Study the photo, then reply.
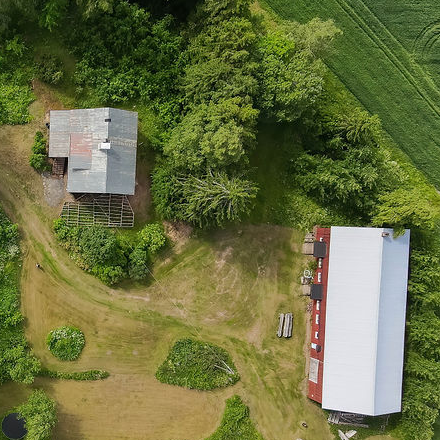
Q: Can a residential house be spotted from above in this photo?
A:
Yes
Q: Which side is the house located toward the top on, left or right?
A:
left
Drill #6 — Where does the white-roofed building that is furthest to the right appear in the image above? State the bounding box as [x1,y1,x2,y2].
[298,226,412,417]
